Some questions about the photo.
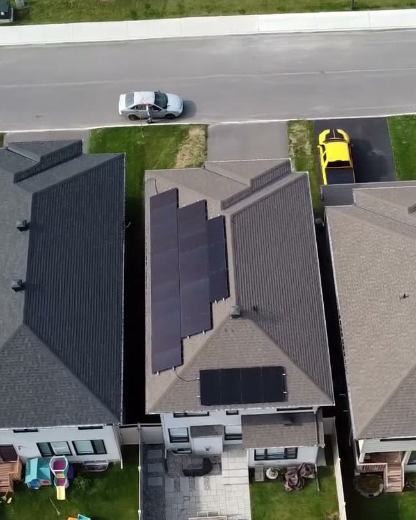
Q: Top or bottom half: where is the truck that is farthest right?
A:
top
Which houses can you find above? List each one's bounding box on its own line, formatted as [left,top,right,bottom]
[144,158,334,470]
[321,182,416,473]
[0,140,127,471]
